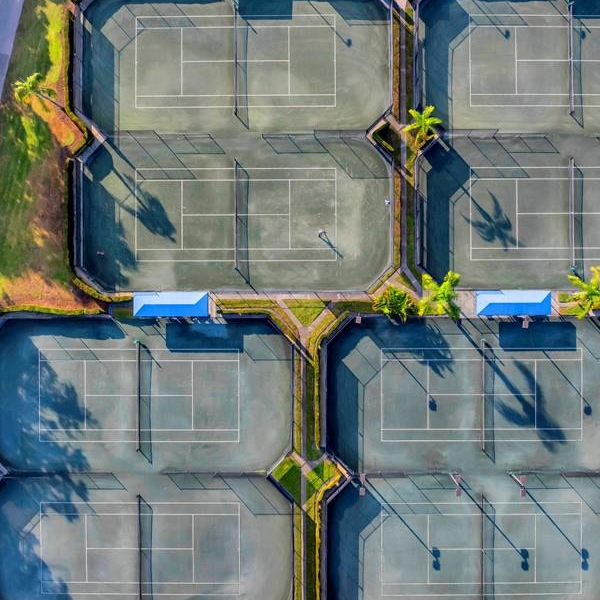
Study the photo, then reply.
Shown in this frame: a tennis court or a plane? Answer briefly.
tennis court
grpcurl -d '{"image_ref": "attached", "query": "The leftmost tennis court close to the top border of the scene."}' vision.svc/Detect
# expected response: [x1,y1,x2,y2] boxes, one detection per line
[82,0,390,136]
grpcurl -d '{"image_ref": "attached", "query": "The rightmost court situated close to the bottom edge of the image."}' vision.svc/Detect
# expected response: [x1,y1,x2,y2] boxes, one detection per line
[326,473,600,600]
